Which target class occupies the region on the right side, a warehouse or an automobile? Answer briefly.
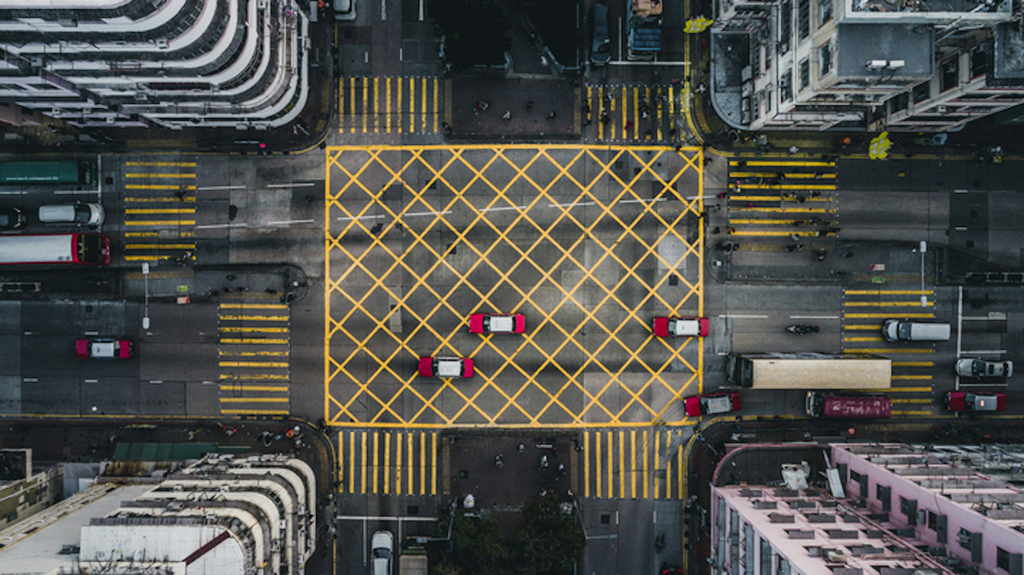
automobile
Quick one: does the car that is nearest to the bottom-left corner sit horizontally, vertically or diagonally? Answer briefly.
horizontally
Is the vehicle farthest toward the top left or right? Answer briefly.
left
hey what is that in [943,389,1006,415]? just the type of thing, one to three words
car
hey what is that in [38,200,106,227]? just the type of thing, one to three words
vehicle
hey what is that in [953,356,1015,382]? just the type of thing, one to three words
car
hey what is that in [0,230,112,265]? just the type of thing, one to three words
bus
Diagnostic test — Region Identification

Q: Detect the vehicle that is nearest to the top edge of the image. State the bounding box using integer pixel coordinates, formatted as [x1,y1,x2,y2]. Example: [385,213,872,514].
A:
[331,0,358,22]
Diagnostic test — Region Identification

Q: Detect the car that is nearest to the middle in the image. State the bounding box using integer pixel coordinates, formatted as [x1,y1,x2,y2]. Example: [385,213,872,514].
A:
[468,311,527,337]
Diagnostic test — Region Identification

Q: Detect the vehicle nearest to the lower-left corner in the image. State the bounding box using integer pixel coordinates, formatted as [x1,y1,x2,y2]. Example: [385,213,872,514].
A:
[77,337,137,363]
